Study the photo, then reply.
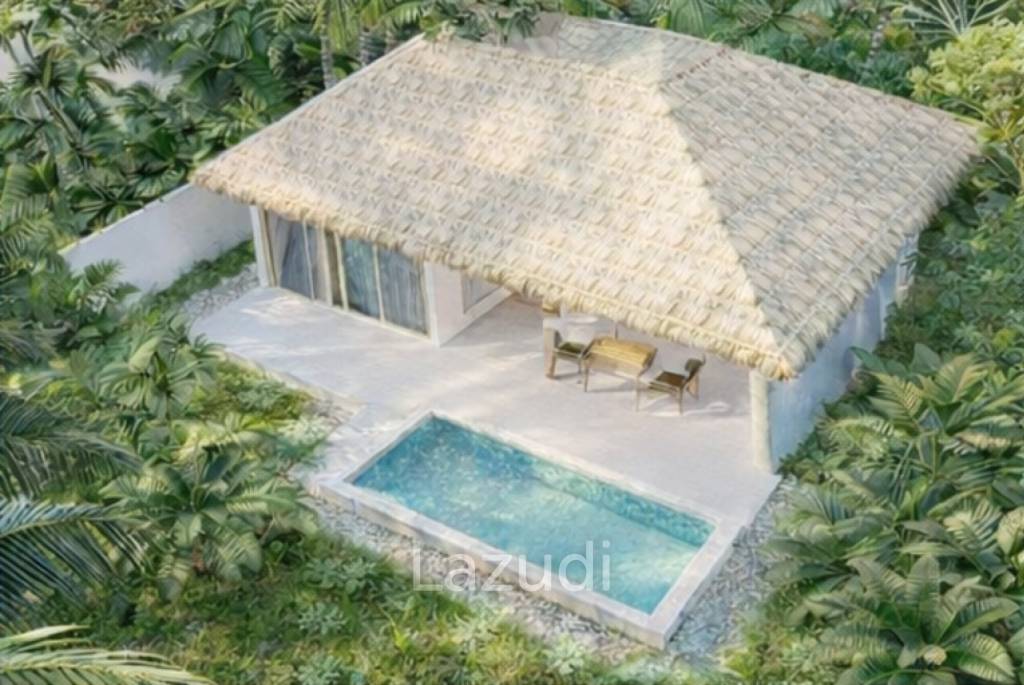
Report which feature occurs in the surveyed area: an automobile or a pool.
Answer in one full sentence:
Of the two, only a pool appears.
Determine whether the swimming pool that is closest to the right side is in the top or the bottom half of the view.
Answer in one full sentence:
The swimming pool that is closest to the right side sits in the bottom half of the picture.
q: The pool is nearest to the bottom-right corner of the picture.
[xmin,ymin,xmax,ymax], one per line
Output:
[311,396,744,651]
